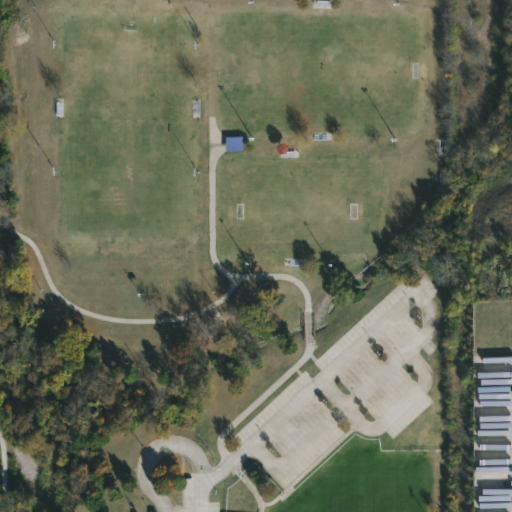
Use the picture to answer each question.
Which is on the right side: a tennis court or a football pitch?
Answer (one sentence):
You can see a football pitch on the right side.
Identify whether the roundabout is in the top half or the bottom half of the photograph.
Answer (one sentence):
Seen from above, the roundabout lies in the bottom half of the view.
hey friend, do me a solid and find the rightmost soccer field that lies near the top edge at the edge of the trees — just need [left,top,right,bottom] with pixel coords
[217,12,421,140]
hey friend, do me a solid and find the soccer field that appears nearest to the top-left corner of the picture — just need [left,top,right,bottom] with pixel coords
[60,22,196,236]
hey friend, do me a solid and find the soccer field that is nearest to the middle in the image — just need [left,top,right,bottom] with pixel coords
[217,157,386,256]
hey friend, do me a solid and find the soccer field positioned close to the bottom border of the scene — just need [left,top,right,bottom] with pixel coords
[264,435,432,512]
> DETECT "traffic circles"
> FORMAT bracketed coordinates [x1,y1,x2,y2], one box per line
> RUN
[138,436,208,512]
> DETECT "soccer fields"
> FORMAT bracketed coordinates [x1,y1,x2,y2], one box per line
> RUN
[60,22,196,236]
[264,435,432,512]
[217,12,421,140]
[217,157,386,256]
